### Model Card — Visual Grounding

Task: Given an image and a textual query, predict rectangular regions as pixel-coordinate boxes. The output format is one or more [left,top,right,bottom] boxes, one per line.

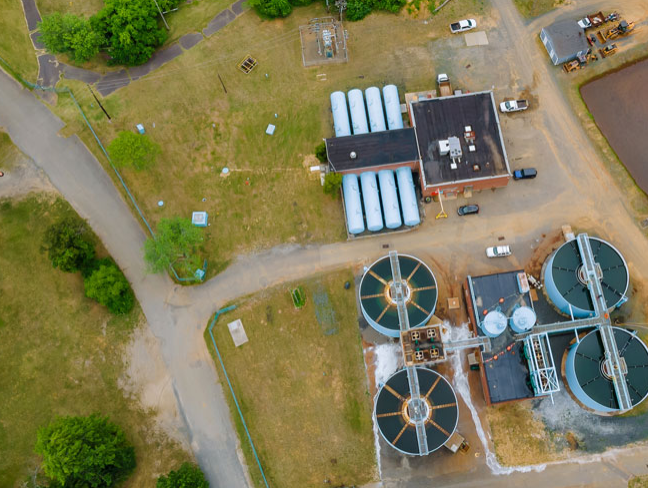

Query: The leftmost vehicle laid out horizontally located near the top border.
[449,19,477,33]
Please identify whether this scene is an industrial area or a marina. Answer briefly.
industrial area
